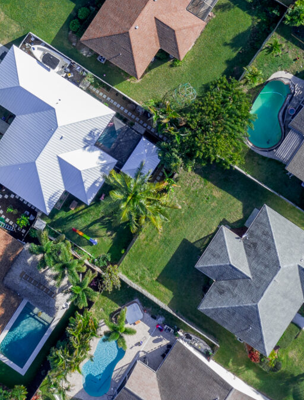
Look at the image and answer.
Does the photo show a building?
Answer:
Yes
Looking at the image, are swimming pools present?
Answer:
Yes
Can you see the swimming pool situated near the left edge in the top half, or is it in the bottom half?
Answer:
bottom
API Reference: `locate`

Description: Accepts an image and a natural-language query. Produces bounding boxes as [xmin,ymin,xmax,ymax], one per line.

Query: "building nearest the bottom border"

[113,335,256,400]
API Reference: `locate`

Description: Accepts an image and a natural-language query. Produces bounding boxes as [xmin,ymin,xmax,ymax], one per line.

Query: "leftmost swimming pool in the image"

[0,297,65,380]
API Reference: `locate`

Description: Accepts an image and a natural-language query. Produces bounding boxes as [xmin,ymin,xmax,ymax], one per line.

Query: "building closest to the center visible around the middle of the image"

[121,136,160,184]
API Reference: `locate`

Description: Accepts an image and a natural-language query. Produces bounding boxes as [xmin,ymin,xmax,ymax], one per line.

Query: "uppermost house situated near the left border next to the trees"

[0,45,118,215]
